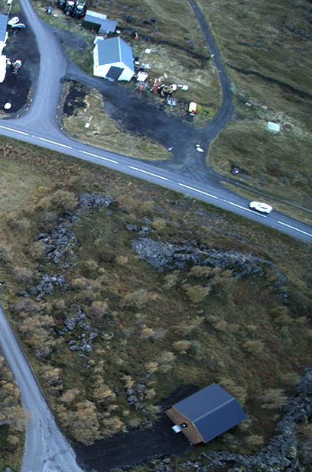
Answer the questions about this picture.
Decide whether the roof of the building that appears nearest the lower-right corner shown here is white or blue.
blue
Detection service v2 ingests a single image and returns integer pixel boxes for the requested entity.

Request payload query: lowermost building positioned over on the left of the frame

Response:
[94,36,135,84]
